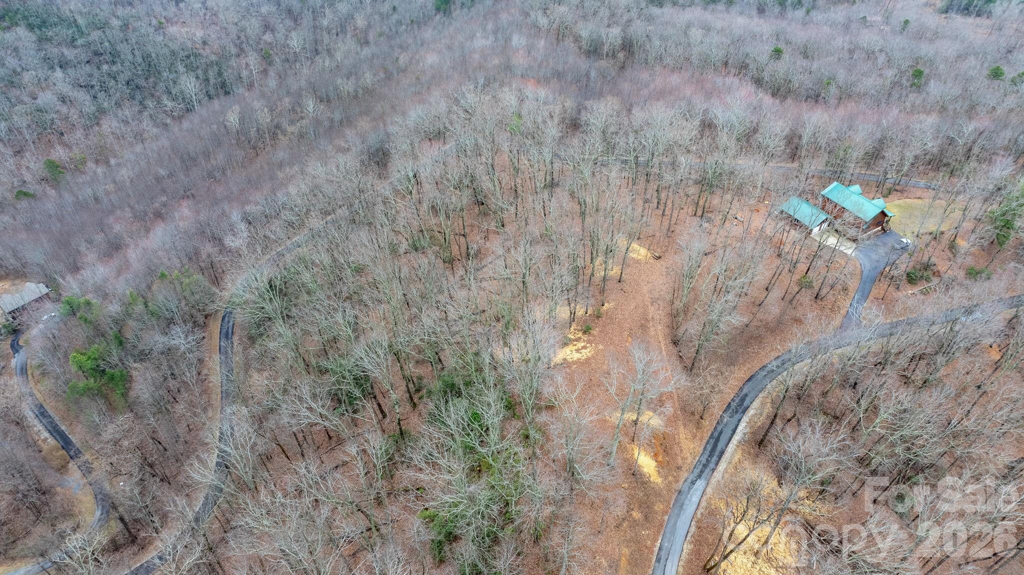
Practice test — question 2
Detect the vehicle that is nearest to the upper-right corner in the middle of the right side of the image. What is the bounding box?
[893,236,915,251]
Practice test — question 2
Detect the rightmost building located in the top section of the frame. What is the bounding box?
[818,179,897,239]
